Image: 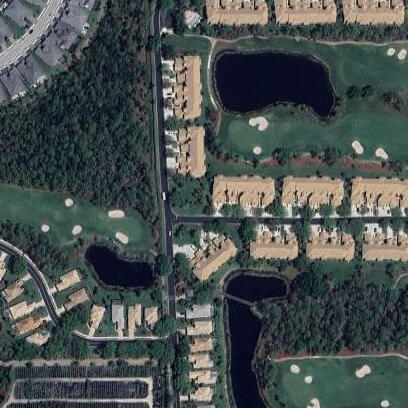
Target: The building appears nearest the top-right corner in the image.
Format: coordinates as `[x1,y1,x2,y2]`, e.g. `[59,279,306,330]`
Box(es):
[344,0,405,27]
